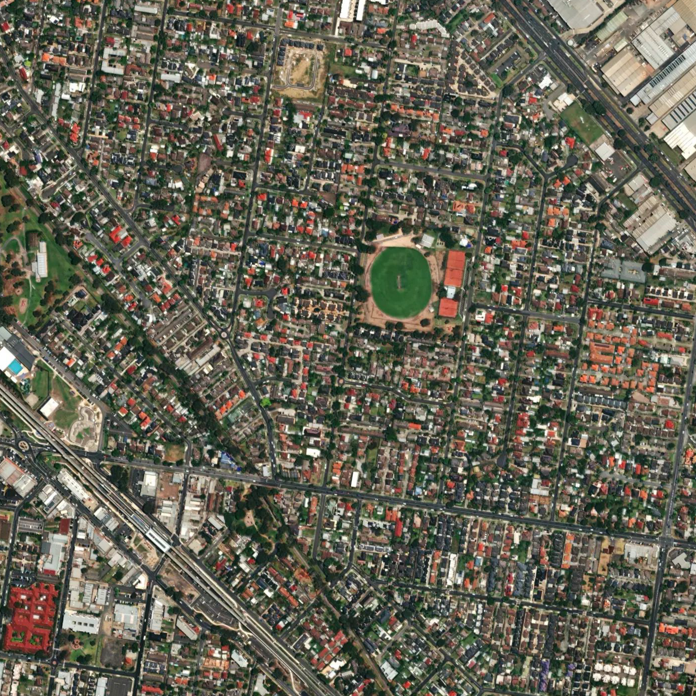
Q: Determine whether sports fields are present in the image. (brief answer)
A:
Yes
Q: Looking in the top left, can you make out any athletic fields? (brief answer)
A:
No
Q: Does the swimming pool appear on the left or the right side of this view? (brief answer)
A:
left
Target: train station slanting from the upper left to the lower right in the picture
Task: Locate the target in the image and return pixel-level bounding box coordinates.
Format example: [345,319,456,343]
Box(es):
[99,483,172,553]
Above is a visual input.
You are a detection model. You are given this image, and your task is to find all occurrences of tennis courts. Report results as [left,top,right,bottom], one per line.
[438,299,458,317]
[445,269,464,286]
[448,251,466,269]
